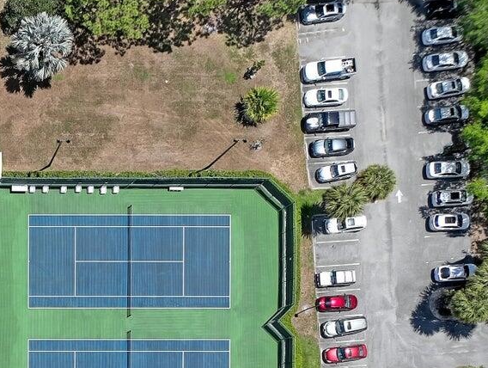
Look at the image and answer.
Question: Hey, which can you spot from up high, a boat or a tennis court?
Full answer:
There is a tennis court in the scene.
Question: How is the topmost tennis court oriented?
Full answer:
In this picture, the topmost tennis court lies horizontally.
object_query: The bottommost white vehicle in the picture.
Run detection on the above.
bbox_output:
[322,316,367,337]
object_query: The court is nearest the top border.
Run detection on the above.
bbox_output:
[27,214,231,308]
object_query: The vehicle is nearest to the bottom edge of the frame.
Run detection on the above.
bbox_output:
[322,344,367,363]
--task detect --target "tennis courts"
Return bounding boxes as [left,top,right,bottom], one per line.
[27,338,231,368]
[27,214,231,308]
